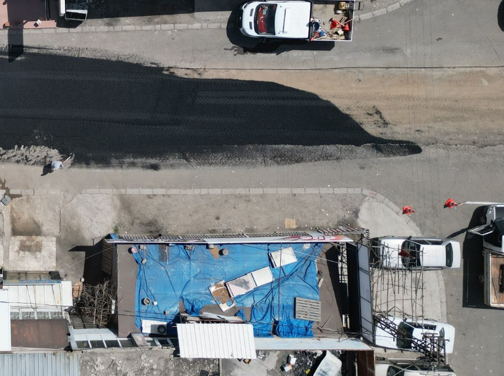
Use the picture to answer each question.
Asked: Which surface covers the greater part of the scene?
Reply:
paved ground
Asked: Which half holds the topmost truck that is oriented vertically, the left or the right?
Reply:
right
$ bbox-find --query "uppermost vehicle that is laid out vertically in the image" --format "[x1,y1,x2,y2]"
[457,202,504,309]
